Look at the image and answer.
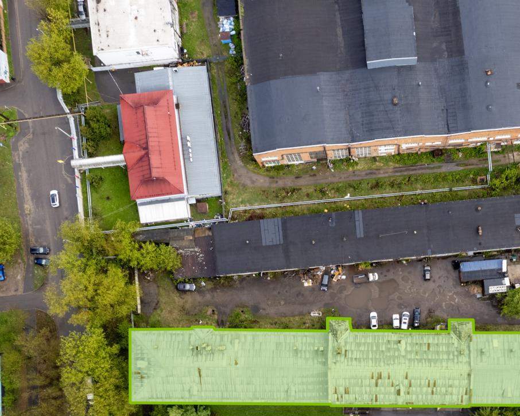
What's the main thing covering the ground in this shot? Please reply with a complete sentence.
The scene is dominated by buildings.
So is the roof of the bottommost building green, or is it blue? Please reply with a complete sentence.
From above, the roof of the bottommost building appears green.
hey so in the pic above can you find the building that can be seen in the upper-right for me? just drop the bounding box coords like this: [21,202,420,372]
[243,0,520,169]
